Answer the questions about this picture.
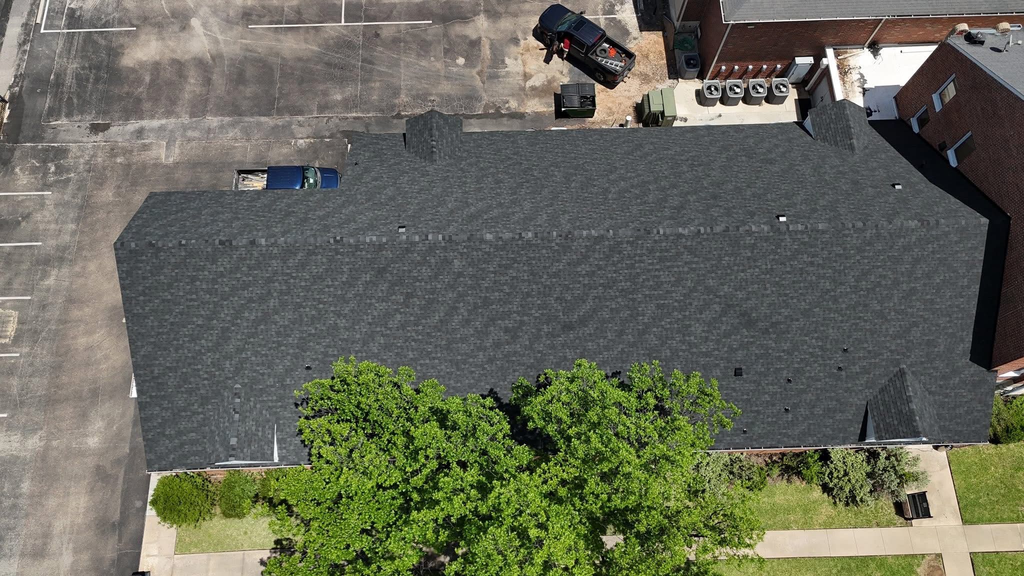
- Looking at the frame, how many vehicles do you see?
two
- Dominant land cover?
buildings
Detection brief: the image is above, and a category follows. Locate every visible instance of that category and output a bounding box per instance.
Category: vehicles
[234,157,344,188]
[537,2,641,88]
